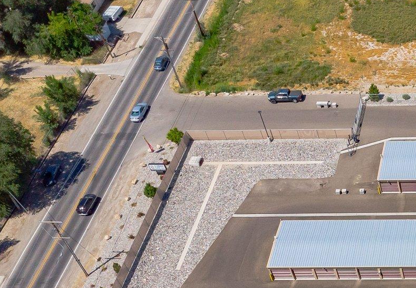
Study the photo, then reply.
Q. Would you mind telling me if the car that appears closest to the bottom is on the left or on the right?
left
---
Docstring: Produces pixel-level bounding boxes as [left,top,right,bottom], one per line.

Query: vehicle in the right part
[267,89,301,104]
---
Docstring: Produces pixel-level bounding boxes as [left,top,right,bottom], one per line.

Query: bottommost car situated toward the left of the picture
[75,193,97,213]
